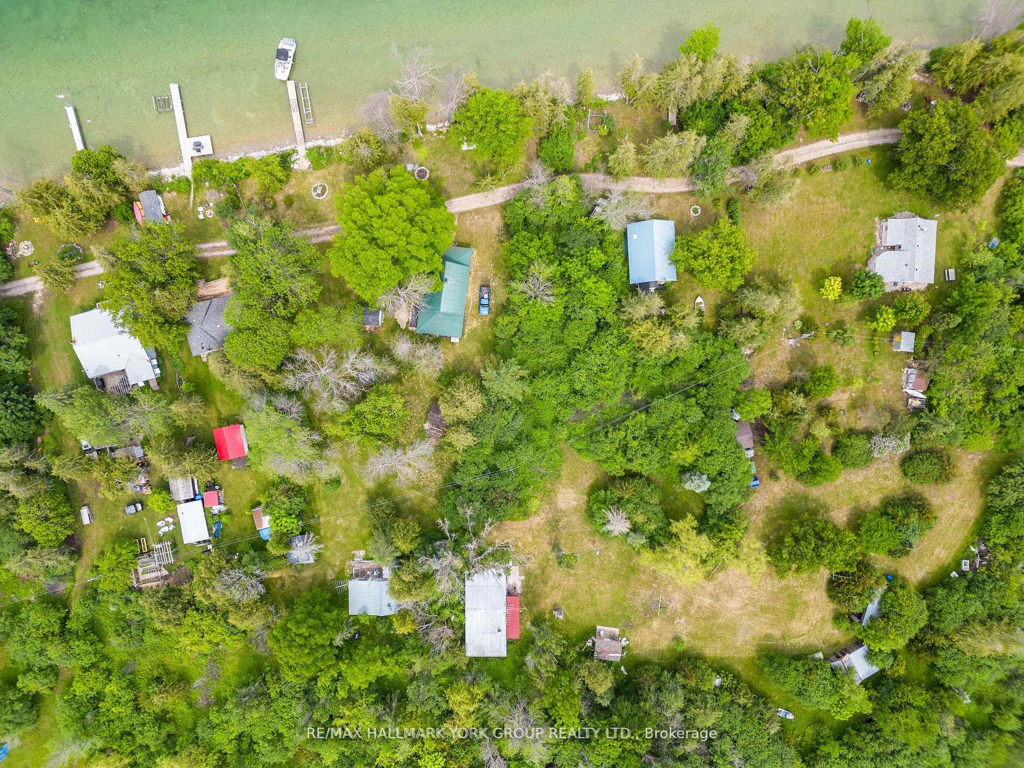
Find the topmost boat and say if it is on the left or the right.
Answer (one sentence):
The topmost boat is on the left side of the image.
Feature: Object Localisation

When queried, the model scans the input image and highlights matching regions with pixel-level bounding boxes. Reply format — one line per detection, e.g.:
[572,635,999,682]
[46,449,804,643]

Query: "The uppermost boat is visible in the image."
[276,35,296,80]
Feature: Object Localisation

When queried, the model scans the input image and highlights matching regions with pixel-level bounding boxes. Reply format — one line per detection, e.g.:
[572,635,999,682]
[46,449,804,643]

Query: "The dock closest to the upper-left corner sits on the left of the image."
[66,106,85,155]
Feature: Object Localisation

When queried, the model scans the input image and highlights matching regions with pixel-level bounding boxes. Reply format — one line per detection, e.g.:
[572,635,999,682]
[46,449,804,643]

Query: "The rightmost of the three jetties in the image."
[287,80,306,154]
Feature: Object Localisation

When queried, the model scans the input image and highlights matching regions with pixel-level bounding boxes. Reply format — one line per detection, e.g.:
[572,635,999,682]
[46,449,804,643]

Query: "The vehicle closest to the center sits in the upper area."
[477,284,491,316]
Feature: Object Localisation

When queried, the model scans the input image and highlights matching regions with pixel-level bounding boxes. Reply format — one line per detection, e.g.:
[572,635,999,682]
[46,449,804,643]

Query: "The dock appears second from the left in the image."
[169,83,213,178]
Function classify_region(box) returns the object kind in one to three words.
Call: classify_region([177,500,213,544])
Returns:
building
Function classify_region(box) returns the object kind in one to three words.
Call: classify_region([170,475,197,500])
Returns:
shed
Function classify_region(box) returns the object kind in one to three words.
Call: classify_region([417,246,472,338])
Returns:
house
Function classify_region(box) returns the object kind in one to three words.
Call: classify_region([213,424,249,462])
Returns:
shed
